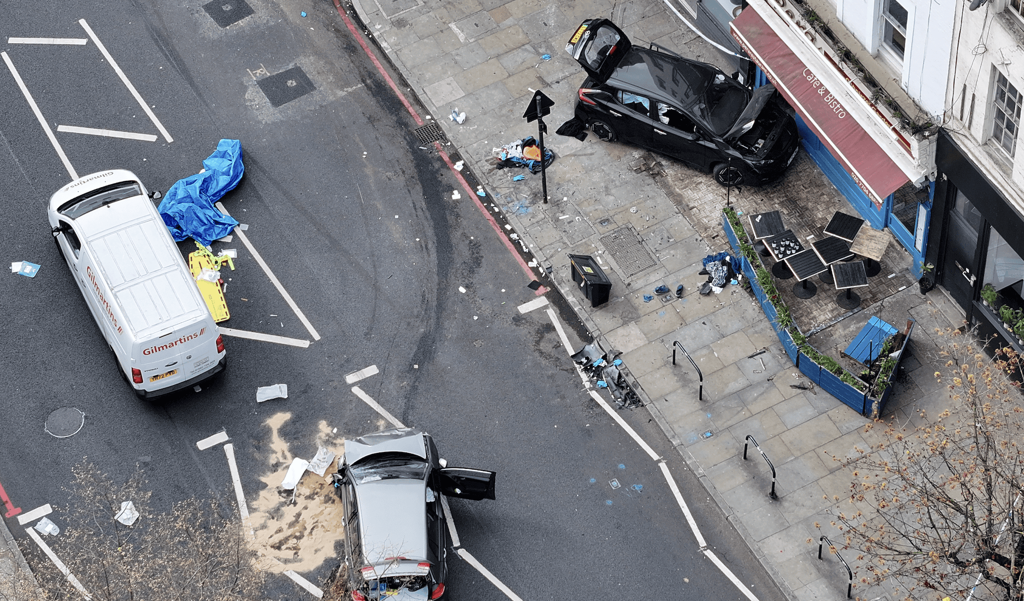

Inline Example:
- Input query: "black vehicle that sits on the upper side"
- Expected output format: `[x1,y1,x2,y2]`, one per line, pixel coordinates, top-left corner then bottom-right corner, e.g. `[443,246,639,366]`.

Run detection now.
[556,23,802,184]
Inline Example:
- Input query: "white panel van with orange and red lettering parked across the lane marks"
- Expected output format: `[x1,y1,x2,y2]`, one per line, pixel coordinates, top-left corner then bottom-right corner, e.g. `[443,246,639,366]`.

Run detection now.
[47,174,226,400]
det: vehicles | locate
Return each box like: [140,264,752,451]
[556,23,802,184]
[47,174,226,400]
[331,431,499,601]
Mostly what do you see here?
paved ground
